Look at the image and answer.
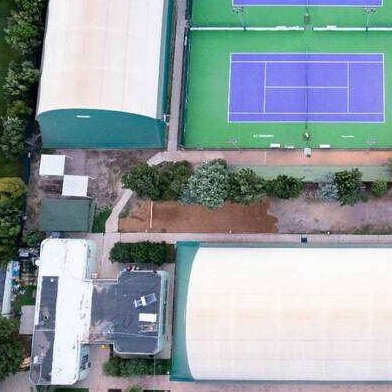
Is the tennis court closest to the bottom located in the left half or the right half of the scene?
right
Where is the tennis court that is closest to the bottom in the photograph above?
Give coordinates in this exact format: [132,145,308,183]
[182,28,392,147]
